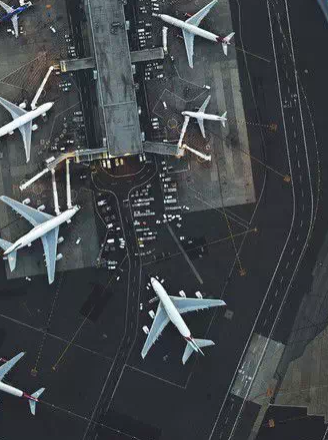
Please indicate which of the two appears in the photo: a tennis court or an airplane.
airplane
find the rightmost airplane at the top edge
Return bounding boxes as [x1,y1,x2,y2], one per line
[159,0,234,67]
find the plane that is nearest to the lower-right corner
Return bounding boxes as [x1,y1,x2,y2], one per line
[141,278,227,360]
